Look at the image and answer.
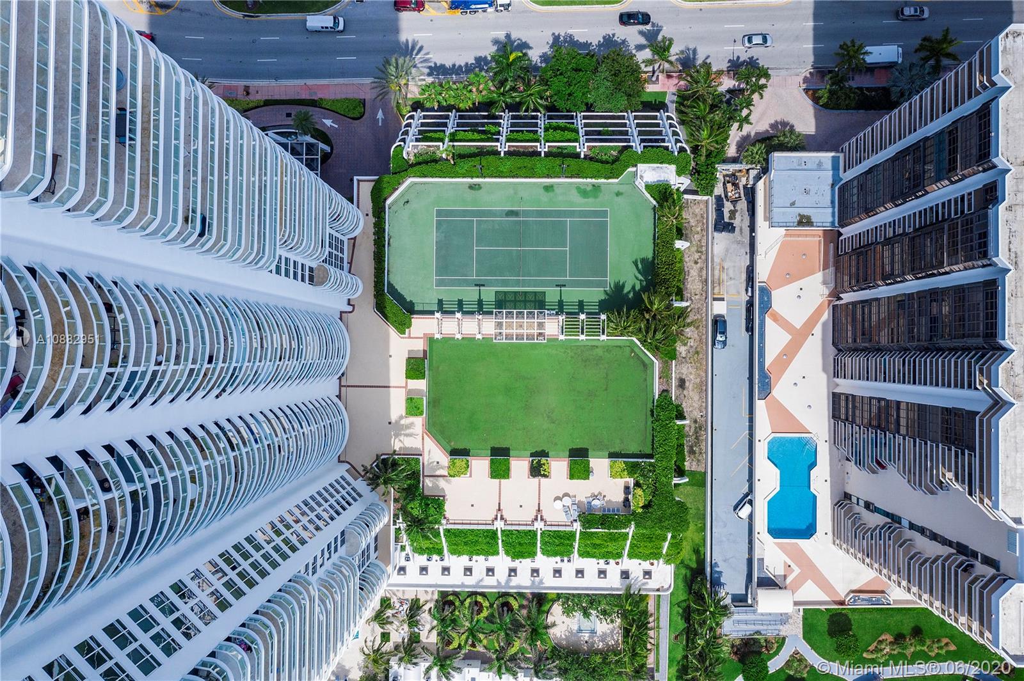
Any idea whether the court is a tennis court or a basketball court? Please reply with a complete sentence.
From above, the court can be identified as a tennis court.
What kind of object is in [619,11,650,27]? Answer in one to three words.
car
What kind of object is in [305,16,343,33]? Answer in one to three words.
vehicle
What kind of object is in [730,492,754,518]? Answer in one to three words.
car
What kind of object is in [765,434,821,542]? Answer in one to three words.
swimming pool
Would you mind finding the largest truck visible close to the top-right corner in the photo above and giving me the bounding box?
[863,44,905,67]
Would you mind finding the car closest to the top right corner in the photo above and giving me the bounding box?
[896,5,928,22]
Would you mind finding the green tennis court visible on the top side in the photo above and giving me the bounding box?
[390,173,654,313]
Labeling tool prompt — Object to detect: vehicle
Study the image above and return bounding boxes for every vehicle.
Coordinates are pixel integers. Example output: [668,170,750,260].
[730,492,754,518]
[619,11,650,27]
[863,44,905,67]
[130,26,158,46]
[305,16,343,33]
[395,0,425,12]
[744,266,754,296]
[896,5,928,22]
[744,302,754,335]
[746,578,754,606]
[712,316,728,348]
[741,33,772,49]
